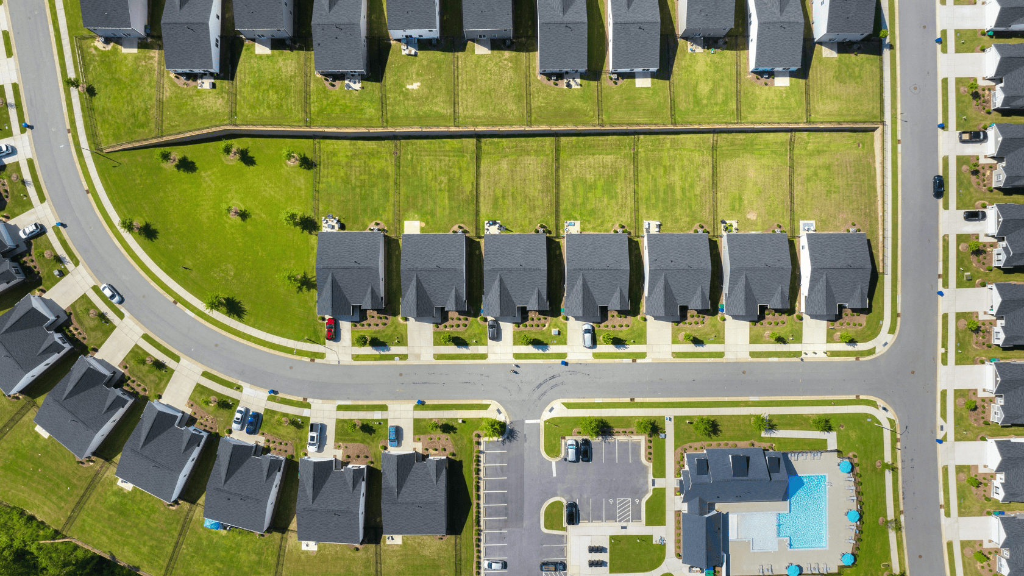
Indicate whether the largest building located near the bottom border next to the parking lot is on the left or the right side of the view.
right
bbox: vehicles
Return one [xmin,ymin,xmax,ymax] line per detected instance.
[308,423,320,452]
[232,406,247,430]
[567,501,577,525]
[958,130,987,142]
[245,410,259,434]
[326,317,336,341]
[18,222,43,239]
[963,210,986,222]
[566,439,578,462]
[541,561,565,573]
[932,175,945,199]
[387,425,398,447]
[0,143,14,156]
[580,438,592,462]
[488,319,497,340]
[582,323,594,347]
[101,282,123,305]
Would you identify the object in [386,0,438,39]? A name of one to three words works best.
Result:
house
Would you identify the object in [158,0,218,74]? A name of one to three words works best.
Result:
house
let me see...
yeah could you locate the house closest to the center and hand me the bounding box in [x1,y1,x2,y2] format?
[483,233,548,317]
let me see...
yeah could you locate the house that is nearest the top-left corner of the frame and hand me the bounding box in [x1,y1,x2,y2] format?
[78,0,146,38]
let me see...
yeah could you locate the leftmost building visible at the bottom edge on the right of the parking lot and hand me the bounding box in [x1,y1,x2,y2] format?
[673,445,789,571]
